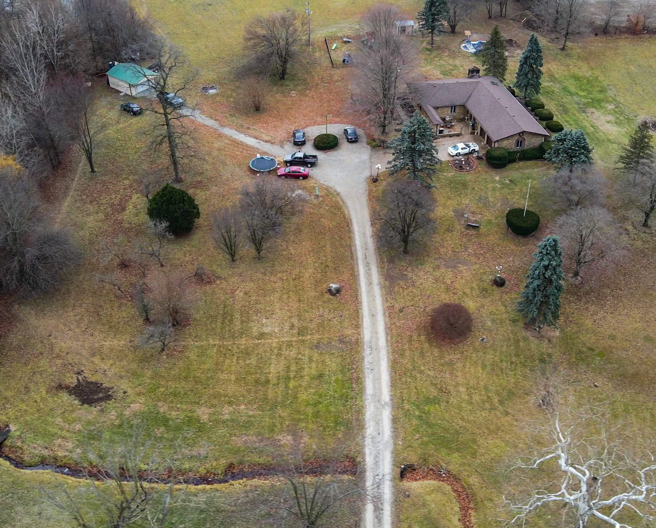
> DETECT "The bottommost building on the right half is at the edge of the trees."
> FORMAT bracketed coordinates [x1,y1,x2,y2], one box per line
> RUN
[402,65,550,148]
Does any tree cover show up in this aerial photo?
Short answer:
Yes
